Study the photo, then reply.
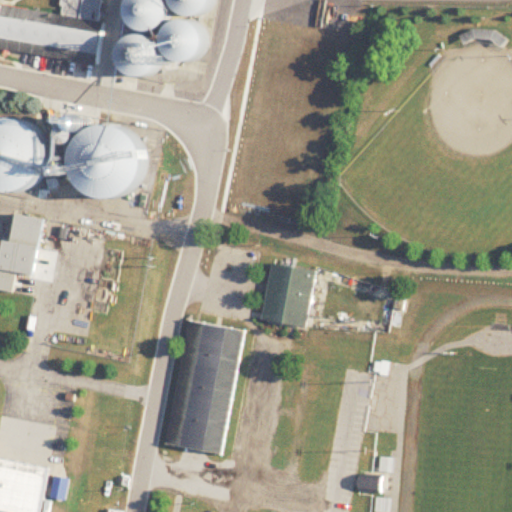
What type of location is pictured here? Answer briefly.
industrial area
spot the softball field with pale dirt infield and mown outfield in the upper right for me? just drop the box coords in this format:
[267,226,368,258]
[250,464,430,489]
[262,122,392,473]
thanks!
[342,40,512,253]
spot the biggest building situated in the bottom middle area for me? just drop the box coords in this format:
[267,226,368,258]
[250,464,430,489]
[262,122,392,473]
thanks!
[160,321,244,454]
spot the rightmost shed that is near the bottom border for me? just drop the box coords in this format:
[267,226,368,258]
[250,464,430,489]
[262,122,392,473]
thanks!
[355,474,382,494]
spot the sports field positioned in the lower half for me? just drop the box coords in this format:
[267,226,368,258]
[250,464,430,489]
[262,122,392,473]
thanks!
[406,304,512,512]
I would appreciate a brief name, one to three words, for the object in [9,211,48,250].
building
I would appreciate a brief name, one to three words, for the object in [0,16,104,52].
building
